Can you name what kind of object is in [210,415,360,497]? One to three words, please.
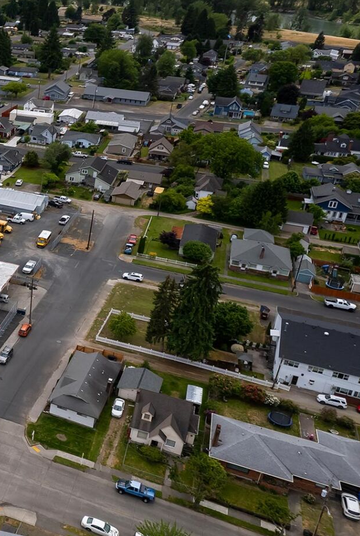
house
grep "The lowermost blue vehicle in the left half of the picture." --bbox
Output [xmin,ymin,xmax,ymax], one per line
[116,481,156,504]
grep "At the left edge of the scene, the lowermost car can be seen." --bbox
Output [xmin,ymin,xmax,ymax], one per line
[0,347,15,363]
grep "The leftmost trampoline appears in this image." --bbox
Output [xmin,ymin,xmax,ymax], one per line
[267,411,294,429]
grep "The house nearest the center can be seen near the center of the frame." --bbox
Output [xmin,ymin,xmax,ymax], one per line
[178,221,222,259]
